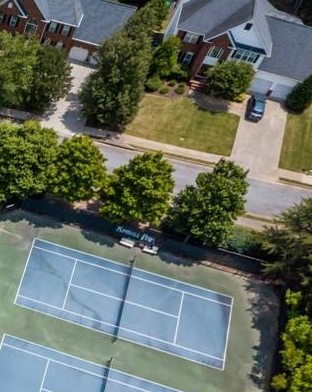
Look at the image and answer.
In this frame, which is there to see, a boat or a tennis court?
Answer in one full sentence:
It is a tennis court that can be seen here.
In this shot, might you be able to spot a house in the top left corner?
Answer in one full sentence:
Yes, a house appears in the top left corner.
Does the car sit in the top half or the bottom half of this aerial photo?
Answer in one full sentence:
Seen from above, the car lies in the top half of the view.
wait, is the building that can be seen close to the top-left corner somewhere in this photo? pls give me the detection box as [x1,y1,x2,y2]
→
[0,0,112,56]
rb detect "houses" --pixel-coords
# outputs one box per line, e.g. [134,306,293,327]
[168,0,312,99]
[0,0,112,56]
